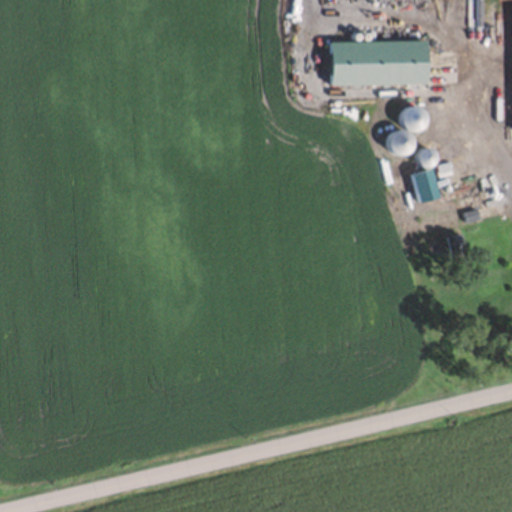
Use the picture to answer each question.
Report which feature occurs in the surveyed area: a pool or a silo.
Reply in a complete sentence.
I can see a silo in this picture.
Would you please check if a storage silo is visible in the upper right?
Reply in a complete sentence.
Yes, a storage silo appears in the upper right.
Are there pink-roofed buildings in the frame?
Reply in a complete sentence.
No, there appears to be no pink-roofed building in this shot.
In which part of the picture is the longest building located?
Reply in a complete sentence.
The longest building is located in the top right region of the scene.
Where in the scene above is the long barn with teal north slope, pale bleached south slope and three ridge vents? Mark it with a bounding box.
[328,42,430,86]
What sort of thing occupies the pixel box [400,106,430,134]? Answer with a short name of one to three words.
silo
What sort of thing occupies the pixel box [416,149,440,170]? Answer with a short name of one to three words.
silo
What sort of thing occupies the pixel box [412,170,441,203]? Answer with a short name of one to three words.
shed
